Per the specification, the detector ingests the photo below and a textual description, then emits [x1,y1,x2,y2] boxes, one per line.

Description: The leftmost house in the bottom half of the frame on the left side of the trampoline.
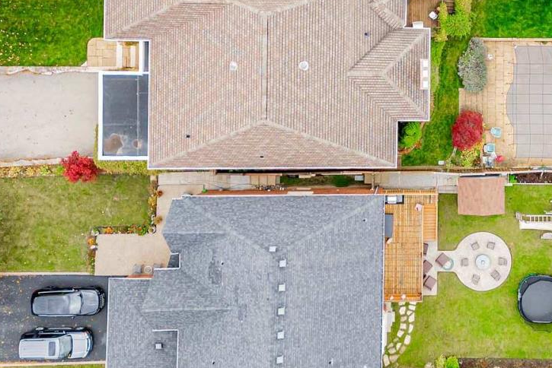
[106,188,384,368]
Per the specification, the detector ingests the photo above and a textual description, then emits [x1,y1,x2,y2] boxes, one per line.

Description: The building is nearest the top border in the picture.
[99,0,432,170]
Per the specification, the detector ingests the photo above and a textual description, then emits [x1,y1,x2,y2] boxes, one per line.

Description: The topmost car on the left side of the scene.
[27,283,107,322]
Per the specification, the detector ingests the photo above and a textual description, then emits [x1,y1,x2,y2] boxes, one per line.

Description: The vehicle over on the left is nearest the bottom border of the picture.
[15,324,96,363]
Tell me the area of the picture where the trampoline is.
bottom right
